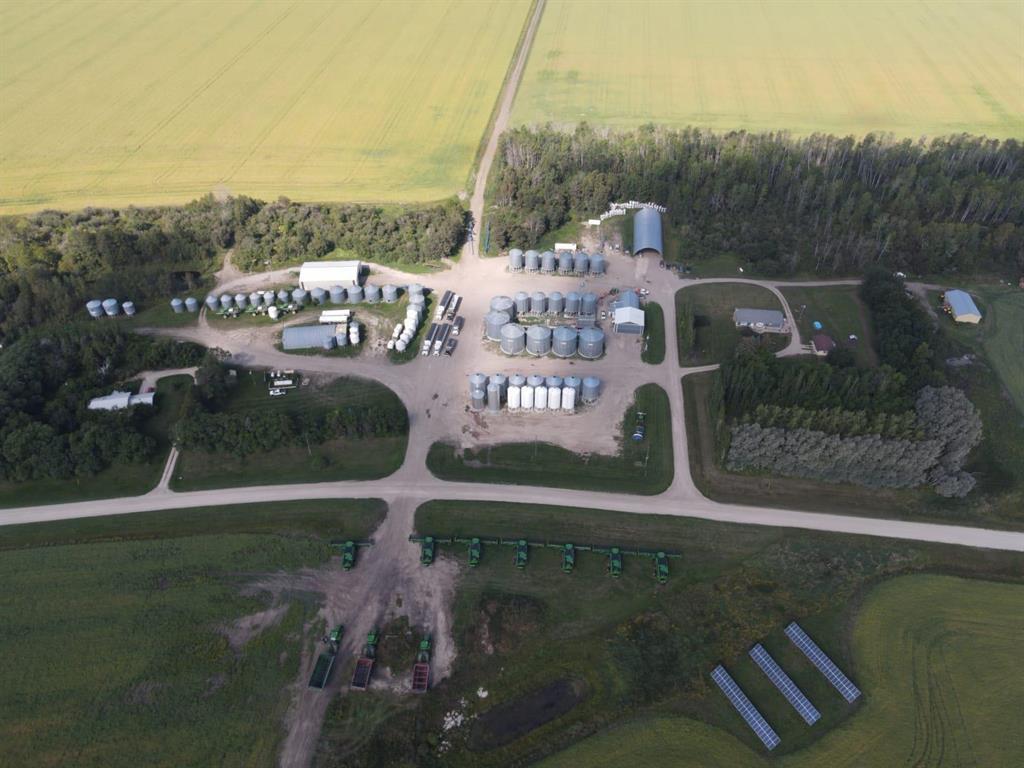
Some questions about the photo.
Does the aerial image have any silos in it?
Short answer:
Yes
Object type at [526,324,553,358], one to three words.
silo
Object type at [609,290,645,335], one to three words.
building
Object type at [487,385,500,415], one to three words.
silo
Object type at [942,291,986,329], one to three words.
shed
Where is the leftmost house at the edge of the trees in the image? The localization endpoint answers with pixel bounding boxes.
[87,382,161,413]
